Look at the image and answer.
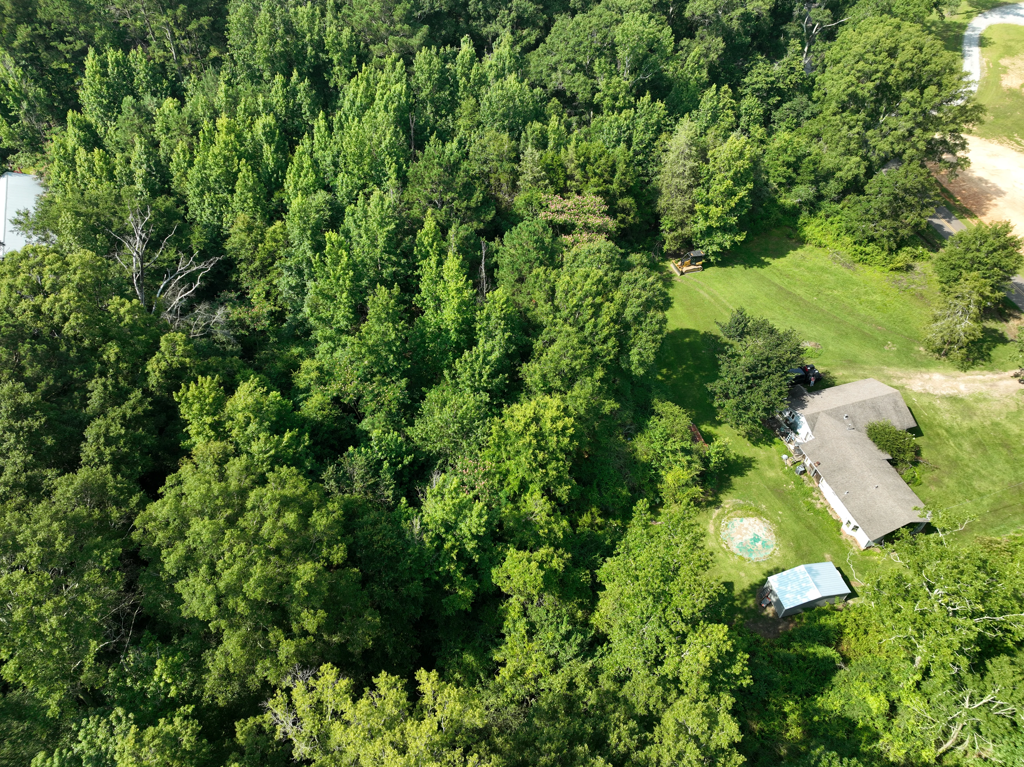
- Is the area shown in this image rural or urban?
rural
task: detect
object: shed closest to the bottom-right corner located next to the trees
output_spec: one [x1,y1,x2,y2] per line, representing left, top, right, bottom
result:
[764,562,851,619]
